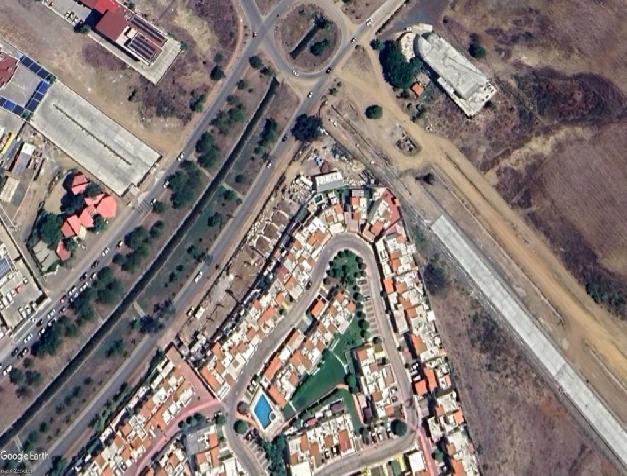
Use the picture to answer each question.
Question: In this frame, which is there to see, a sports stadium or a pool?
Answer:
pool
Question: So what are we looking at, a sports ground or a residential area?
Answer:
residential area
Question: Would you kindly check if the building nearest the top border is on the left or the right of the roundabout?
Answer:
to its left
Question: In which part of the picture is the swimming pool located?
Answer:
bottom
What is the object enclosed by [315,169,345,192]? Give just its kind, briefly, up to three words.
shed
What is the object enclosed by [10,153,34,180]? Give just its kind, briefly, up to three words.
shed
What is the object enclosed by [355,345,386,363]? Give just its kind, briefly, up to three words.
house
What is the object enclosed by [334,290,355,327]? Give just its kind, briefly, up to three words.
house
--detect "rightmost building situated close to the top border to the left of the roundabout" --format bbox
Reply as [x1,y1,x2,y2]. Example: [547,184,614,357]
[80,0,168,61]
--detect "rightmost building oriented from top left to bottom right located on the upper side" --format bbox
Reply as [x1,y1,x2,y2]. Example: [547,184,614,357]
[421,37,487,98]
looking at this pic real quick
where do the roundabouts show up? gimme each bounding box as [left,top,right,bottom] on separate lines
[268,0,351,81]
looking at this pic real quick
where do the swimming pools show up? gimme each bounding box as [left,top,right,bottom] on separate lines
[249,388,285,436]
